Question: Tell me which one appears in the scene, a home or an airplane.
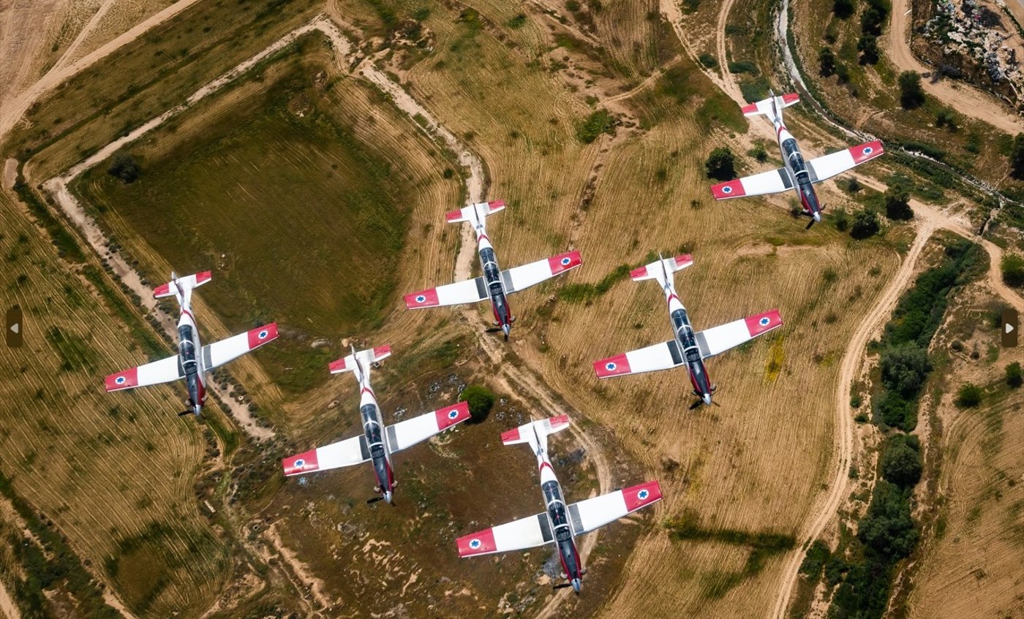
airplane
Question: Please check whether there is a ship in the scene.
No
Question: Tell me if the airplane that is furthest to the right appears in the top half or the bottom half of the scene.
top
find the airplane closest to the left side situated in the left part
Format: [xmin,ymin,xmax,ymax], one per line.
[106,271,279,423]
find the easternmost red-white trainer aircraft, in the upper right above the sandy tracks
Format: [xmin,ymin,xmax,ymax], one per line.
[711,91,885,232]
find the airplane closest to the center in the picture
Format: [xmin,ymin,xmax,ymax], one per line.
[406,198,582,345]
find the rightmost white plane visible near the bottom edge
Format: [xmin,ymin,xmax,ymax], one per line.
[458,415,663,600]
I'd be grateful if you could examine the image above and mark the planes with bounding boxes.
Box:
[711,91,885,232]
[406,198,582,345]
[594,254,783,412]
[284,345,471,511]
[106,271,279,423]
[458,415,663,600]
